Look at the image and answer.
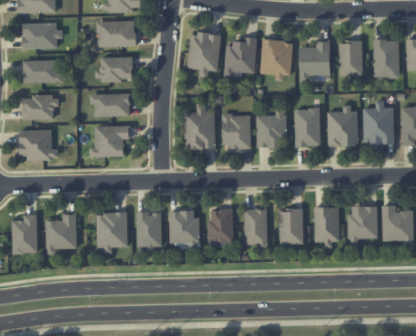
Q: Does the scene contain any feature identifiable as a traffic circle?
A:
No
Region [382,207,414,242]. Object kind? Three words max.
house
